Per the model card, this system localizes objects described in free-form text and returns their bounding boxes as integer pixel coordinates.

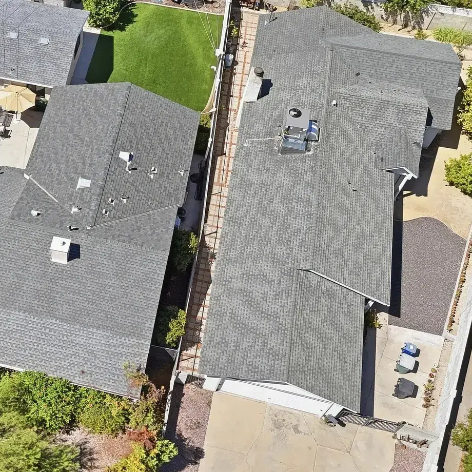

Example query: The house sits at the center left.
[0,82,200,403]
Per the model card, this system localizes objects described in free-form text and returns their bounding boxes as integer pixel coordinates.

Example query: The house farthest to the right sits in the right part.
[180,6,463,419]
